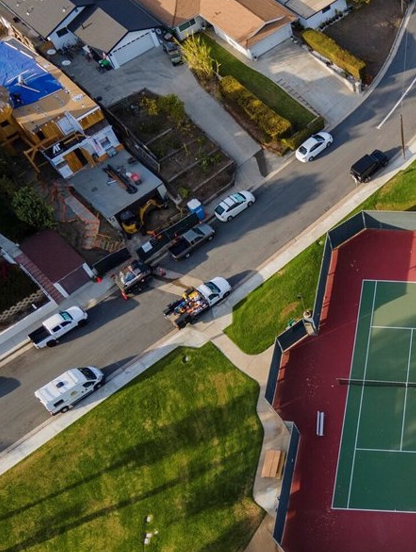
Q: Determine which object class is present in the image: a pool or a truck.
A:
truck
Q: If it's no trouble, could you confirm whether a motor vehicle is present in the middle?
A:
Yes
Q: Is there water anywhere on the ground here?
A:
No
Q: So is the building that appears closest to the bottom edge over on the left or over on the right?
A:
left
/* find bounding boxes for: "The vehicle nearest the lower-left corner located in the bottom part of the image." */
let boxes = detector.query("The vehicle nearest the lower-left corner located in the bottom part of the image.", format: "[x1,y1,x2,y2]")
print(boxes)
[33,363,110,417]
